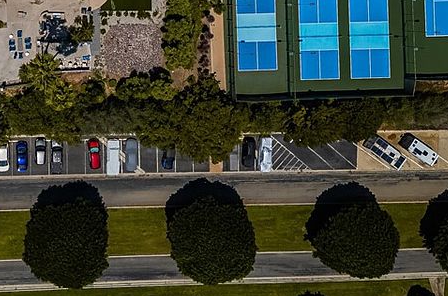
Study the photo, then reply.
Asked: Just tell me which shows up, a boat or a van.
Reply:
van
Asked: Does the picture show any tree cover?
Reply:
Yes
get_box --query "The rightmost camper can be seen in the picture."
[395,130,441,168]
